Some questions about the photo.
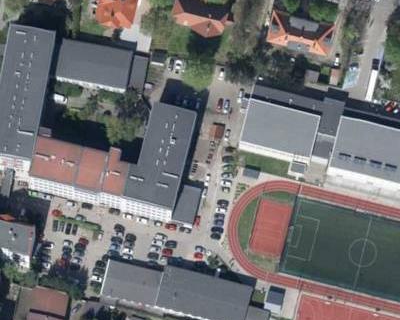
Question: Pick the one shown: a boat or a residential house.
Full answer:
Looking from above, you can make out a residential house.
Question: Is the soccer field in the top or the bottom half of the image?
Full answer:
The soccer field is in the bottom half of the image.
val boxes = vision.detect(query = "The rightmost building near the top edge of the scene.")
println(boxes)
[268,16,335,57]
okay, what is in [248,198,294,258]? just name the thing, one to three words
sports court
